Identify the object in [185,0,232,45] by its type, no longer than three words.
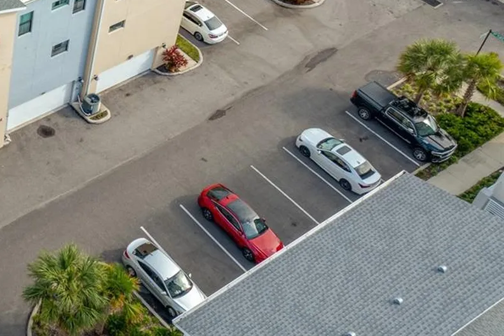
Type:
car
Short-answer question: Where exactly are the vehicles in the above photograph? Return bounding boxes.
[123,237,205,318]
[297,132,385,198]
[198,186,285,265]
[346,85,459,170]
[185,0,232,45]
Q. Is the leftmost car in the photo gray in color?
Yes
